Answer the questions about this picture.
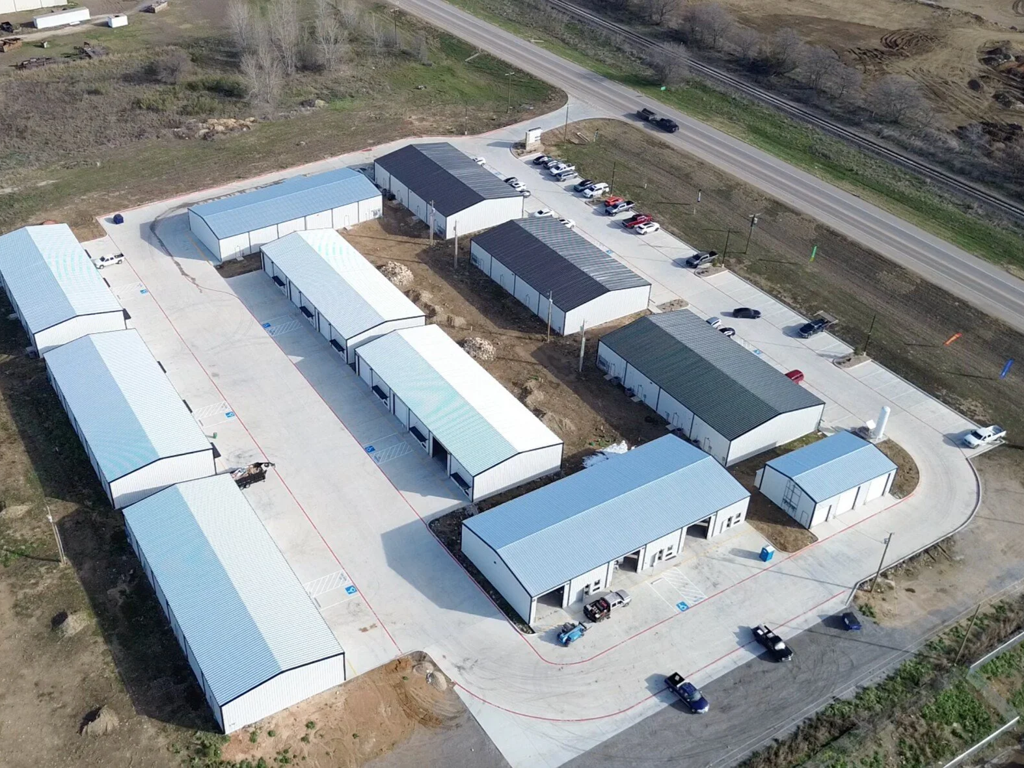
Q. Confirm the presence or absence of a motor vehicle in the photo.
Yes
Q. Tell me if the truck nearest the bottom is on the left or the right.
right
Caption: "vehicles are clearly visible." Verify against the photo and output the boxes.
[665,674,710,715]
[543,158,563,170]
[94,253,126,269]
[532,154,552,166]
[785,370,808,382]
[549,163,575,175]
[574,178,595,191]
[557,169,578,181]
[654,120,679,130]
[560,216,577,226]
[965,425,1001,445]
[606,201,633,214]
[687,252,716,266]
[721,326,740,336]
[510,180,529,190]
[503,176,522,185]
[705,316,726,327]
[583,182,610,196]
[803,317,833,334]
[519,188,536,197]
[582,593,630,619]
[603,195,624,206]
[733,306,760,320]
[533,208,555,217]
[635,222,658,234]
[473,156,490,164]
[751,626,796,664]
[622,215,650,228]
[555,618,595,648]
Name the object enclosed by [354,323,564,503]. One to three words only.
building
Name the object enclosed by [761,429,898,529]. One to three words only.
building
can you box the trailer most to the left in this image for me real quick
[31,4,90,27]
